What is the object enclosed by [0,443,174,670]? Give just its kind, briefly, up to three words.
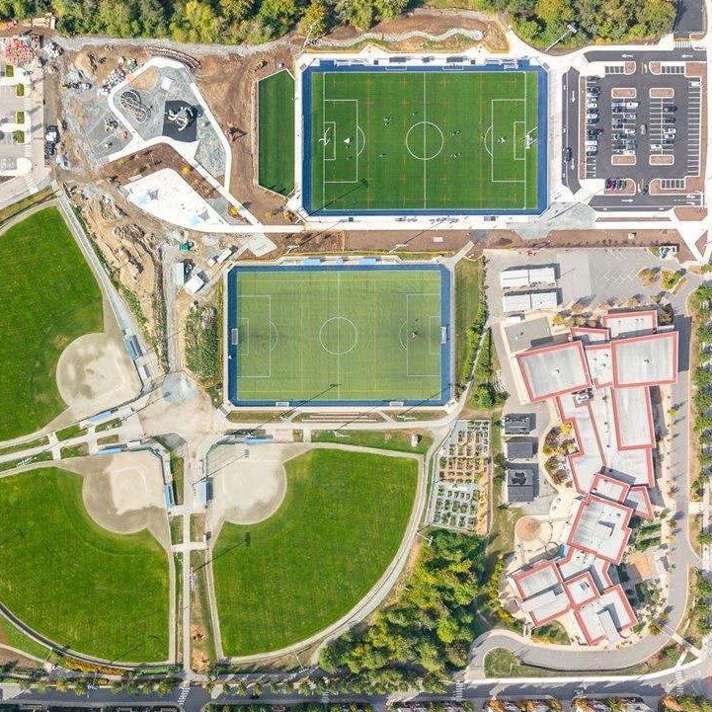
baseball field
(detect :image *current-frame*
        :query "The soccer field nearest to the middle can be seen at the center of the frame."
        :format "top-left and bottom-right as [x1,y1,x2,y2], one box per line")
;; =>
[228,265,450,406]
